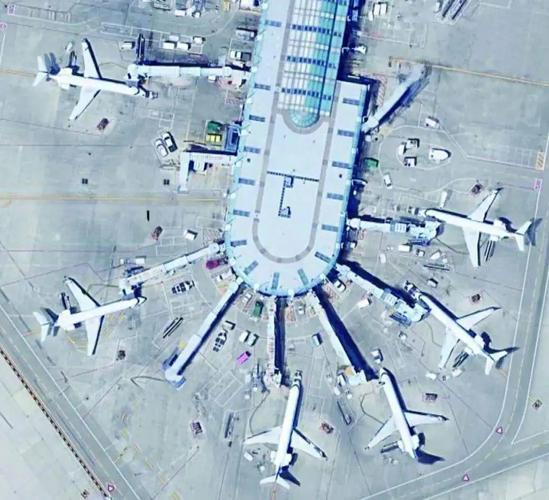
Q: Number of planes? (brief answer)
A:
6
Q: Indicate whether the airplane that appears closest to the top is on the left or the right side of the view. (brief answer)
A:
left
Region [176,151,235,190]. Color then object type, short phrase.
white jet bridge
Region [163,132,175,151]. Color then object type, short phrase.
white vehicle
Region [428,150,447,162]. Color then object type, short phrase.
white vehicle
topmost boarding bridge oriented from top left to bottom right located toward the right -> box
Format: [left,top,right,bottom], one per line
[333,260,427,326]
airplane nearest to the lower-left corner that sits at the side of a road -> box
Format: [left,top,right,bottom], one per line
[31,277,138,356]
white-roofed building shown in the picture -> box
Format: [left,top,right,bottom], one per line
[225,0,367,296]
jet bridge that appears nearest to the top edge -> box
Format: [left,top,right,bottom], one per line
[127,59,250,78]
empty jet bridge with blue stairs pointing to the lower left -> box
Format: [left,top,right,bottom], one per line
[165,279,244,386]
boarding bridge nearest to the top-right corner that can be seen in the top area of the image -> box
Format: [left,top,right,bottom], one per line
[360,62,426,133]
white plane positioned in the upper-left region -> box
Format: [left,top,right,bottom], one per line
[32,39,139,120]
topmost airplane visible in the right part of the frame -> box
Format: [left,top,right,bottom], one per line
[425,187,532,267]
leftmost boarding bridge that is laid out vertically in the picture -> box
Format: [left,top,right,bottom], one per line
[265,294,284,389]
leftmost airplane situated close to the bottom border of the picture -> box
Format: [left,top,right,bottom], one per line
[244,377,324,485]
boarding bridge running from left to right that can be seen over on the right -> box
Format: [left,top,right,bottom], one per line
[346,217,439,244]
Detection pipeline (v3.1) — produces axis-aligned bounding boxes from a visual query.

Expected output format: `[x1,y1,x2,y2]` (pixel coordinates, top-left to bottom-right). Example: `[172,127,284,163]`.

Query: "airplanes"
[416,293,507,375]
[244,377,324,485]
[32,39,139,120]
[31,277,138,356]
[365,369,443,475]
[425,187,532,267]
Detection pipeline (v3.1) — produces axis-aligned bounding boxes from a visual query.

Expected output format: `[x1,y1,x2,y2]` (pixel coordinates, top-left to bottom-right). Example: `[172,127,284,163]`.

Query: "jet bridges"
[307,287,365,386]
[118,243,226,294]
[176,151,235,190]
[265,294,284,389]
[333,260,427,326]
[360,62,426,133]
[346,217,439,244]
[127,59,250,78]
[165,279,244,386]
